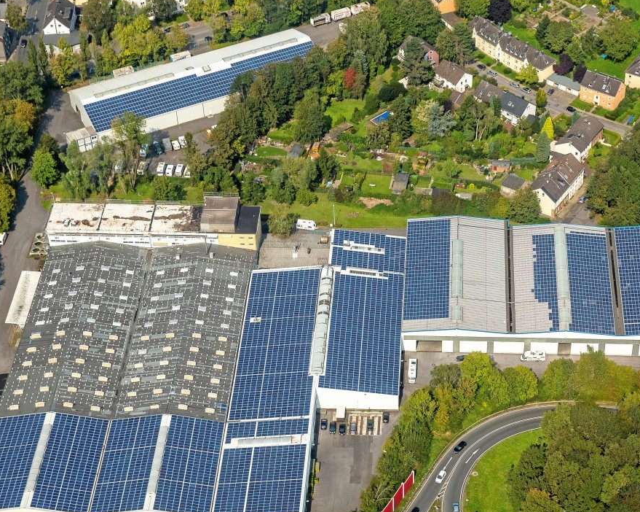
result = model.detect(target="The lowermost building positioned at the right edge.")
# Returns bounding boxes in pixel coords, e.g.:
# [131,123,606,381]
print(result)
[402,216,640,355]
